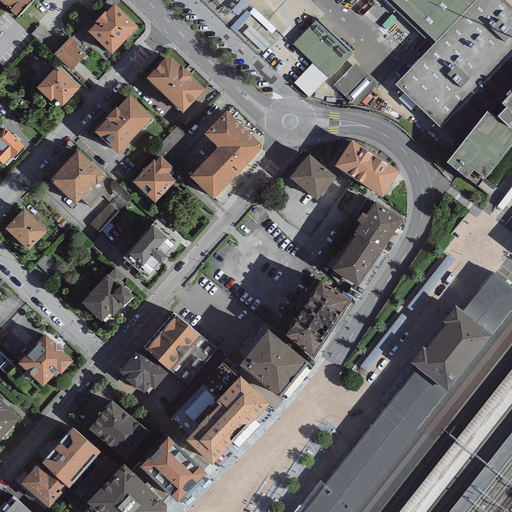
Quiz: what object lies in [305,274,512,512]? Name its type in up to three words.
train station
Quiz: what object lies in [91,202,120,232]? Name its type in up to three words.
building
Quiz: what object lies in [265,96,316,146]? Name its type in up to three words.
roundabout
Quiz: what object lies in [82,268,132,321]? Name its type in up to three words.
house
